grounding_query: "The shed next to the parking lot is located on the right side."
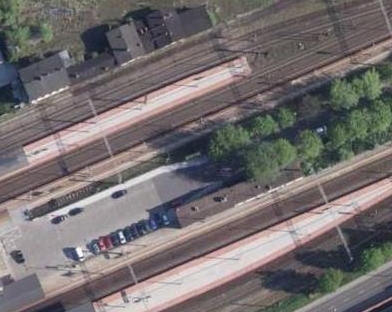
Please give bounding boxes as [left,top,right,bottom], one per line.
[176,158,301,229]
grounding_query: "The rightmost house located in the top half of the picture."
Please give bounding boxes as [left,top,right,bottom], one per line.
[164,5,213,43]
